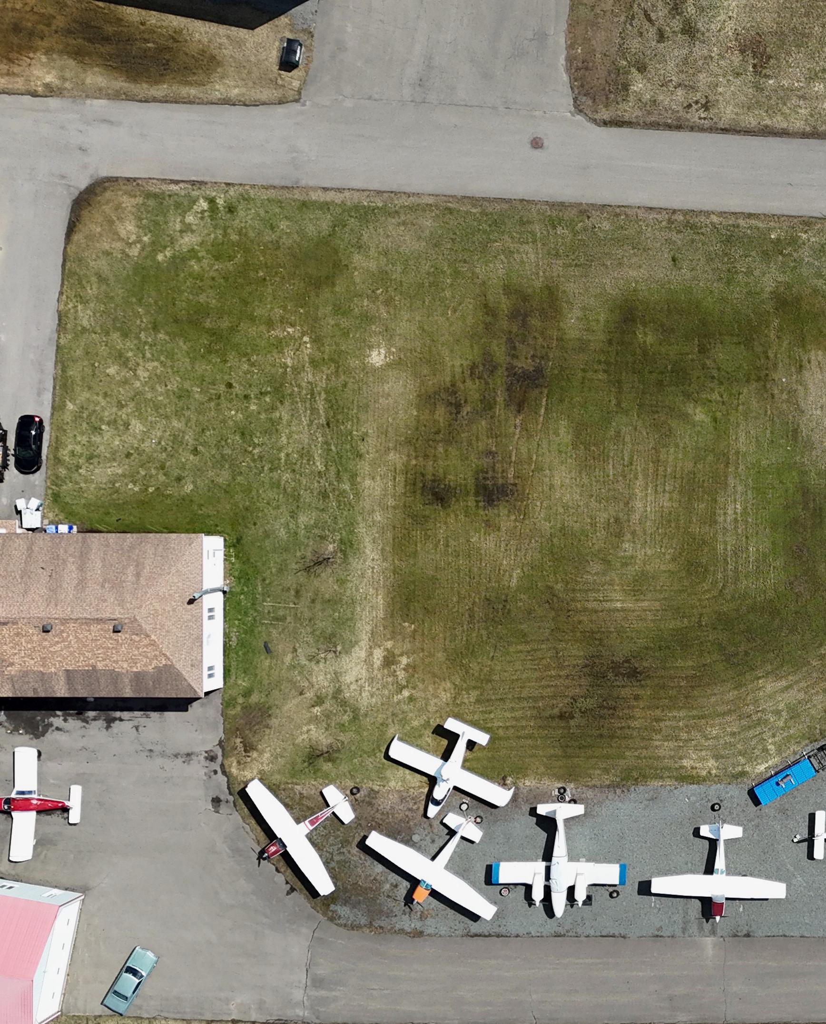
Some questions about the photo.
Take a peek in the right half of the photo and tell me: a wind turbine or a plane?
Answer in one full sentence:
The one visible in the right half of the photo is a plane.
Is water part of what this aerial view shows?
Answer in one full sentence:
No, there's no water in this view.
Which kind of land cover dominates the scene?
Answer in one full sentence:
The largest share of the image is taken up by grass.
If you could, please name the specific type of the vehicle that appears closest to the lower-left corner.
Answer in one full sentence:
The vehicle that appears closest to the lower-left corner can be classified as a car.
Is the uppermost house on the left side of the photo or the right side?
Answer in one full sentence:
It is on the left.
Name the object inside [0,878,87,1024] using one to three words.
hangar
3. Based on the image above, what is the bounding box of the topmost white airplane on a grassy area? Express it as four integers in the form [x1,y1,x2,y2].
[390,717,516,819]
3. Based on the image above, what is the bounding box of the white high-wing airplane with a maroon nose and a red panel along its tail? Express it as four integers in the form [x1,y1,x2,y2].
[245,778,354,898]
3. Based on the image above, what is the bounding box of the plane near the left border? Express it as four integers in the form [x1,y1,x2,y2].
[0,748,78,862]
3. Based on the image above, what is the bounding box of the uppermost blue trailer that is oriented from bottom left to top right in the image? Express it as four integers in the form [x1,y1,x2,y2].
[752,742,826,805]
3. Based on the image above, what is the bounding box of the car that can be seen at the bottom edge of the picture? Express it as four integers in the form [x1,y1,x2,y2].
[102,947,157,1016]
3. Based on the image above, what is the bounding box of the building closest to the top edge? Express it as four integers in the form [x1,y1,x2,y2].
[0,519,231,698]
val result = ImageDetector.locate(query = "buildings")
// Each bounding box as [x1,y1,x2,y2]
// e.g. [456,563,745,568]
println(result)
[0,519,231,698]
[0,878,87,1024]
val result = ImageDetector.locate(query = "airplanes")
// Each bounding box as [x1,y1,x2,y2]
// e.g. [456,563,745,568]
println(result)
[367,811,496,921]
[814,810,826,859]
[0,748,78,862]
[492,804,627,918]
[651,824,787,923]
[390,717,516,819]
[245,778,354,898]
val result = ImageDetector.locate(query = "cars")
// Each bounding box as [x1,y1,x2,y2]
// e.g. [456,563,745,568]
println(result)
[102,947,157,1016]
[12,415,44,472]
